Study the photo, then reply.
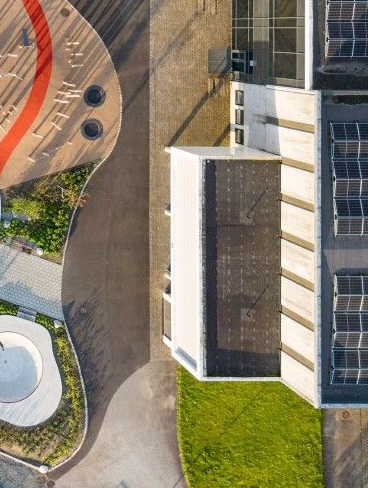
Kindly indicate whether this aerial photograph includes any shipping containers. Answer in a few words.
No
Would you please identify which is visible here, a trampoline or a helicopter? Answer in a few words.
trampoline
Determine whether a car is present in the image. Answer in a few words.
No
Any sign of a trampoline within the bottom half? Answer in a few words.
No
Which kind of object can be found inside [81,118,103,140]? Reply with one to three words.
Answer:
trampoline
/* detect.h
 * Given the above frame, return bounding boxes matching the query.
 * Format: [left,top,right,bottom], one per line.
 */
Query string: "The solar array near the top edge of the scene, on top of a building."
[326,0,368,58]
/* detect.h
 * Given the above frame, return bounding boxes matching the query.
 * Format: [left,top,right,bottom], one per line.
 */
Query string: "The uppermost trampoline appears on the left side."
[84,85,106,107]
